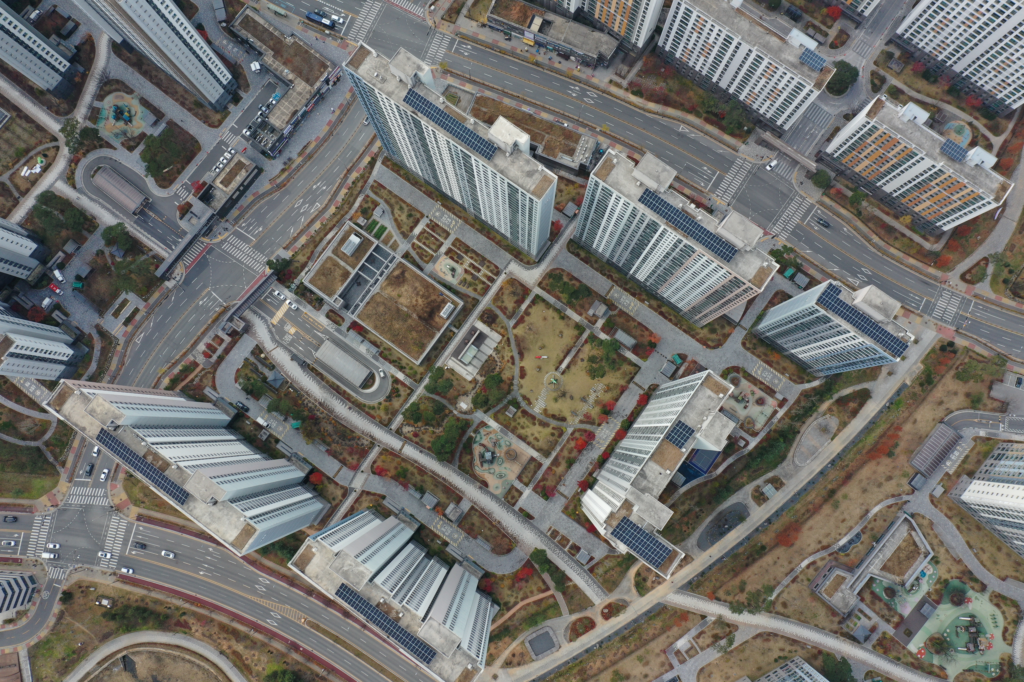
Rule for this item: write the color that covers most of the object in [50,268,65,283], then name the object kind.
white vehicle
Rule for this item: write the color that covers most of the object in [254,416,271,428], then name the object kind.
white vehicle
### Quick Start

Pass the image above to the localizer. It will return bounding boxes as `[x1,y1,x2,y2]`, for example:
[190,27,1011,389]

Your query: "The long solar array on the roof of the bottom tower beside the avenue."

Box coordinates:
[334,582,437,664]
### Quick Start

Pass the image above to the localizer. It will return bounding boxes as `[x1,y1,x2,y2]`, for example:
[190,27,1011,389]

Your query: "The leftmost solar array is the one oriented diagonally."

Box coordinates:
[96,427,191,507]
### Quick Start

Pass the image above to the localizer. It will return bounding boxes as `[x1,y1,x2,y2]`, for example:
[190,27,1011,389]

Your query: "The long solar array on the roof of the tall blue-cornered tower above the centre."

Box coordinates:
[402,88,497,162]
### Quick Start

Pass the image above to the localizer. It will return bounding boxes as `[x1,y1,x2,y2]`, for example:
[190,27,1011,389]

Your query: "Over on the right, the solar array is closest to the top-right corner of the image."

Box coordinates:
[937,139,967,163]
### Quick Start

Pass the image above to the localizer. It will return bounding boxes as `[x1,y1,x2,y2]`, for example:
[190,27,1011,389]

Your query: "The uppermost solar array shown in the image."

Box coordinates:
[797,51,826,73]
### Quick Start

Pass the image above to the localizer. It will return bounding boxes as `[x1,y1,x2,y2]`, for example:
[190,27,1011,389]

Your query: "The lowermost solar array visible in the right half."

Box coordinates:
[609,515,672,568]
